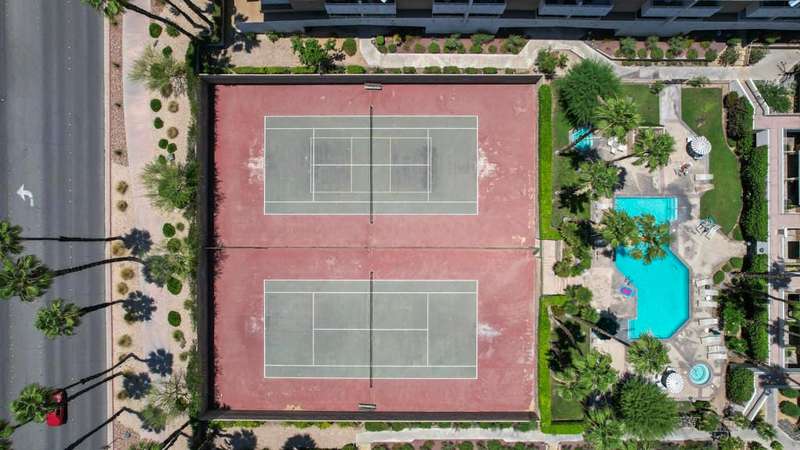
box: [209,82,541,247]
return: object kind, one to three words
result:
tennis court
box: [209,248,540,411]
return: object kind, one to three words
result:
tennis court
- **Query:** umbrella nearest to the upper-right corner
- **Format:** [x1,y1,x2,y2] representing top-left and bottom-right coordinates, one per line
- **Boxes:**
[687,135,710,158]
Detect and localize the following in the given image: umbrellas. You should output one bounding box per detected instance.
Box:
[662,370,683,391]
[687,135,710,158]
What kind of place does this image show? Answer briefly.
sports ground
